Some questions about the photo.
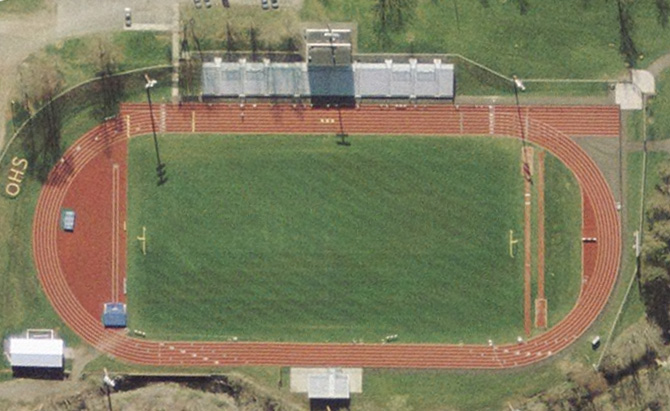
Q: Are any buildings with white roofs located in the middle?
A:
No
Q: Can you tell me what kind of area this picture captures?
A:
sports ground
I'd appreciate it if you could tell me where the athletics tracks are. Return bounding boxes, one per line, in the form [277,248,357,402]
[33,103,620,367]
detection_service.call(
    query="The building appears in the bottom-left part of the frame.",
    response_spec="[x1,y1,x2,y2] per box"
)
[10,331,65,369]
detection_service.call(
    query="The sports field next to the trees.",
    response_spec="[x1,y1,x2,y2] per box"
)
[127,135,581,344]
